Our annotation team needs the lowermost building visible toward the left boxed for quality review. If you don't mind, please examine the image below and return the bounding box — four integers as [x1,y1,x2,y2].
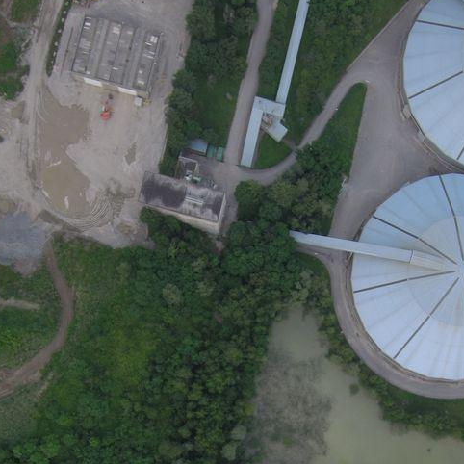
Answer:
[138,172,225,228]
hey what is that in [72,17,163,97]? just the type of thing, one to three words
building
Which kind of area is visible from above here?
industrial area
